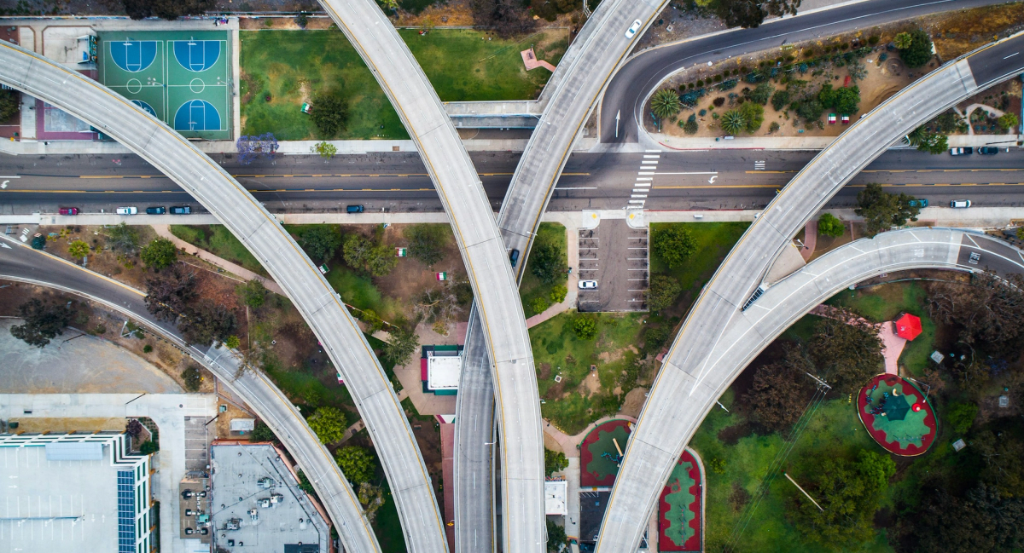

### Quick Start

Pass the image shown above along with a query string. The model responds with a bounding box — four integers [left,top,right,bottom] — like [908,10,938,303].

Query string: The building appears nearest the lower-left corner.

[0,430,161,553]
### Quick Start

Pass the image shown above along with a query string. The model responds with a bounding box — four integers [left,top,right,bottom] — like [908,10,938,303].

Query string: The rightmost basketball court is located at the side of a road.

[97,30,229,139]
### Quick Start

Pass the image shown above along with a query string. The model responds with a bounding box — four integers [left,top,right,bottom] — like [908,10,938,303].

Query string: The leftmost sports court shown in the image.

[37,102,90,139]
